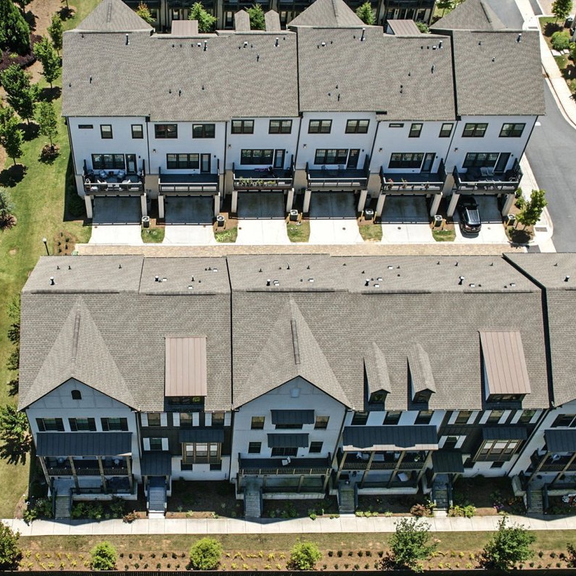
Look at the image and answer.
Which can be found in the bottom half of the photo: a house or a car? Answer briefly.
house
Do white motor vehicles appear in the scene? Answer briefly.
No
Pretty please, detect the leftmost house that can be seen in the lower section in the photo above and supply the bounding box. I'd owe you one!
[16,253,143,516]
